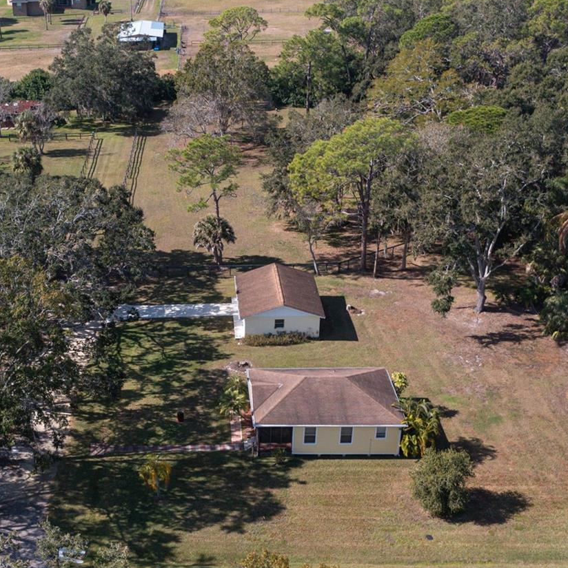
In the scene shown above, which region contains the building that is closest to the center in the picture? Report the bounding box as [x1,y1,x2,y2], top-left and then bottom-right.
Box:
[234,263,324,340]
